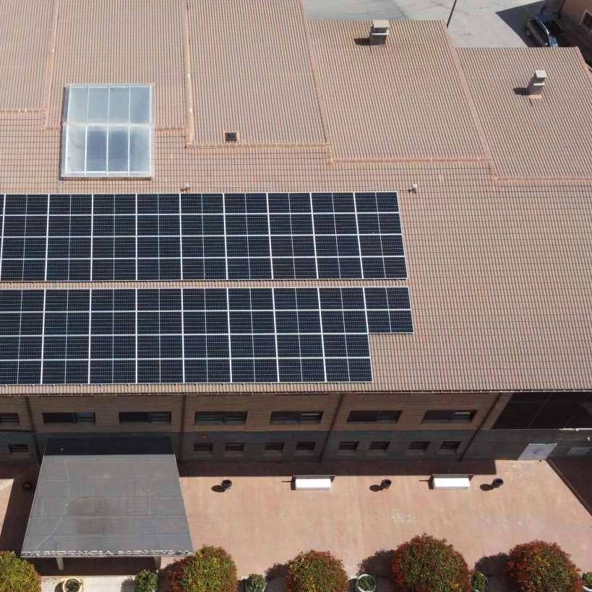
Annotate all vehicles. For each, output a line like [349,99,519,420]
[514,6,573,48]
